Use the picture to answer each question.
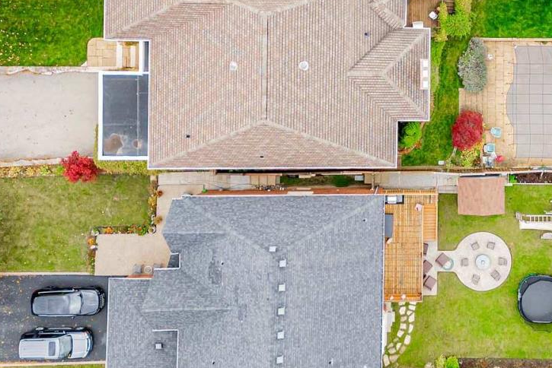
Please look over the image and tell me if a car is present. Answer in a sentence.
Yes, a car can be made out from above.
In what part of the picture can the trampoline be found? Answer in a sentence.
The trampoline sits in the bottom right section of the image.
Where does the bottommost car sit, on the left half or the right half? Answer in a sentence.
You can find the bottommost car on the left side of the picture.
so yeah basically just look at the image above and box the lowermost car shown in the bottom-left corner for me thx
[15,324,96,363]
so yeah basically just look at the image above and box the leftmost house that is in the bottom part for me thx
[106,188,384,368]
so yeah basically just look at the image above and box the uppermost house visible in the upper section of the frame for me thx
[99,0,432,170]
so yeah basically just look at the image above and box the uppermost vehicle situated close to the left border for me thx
[27,283,107,322]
